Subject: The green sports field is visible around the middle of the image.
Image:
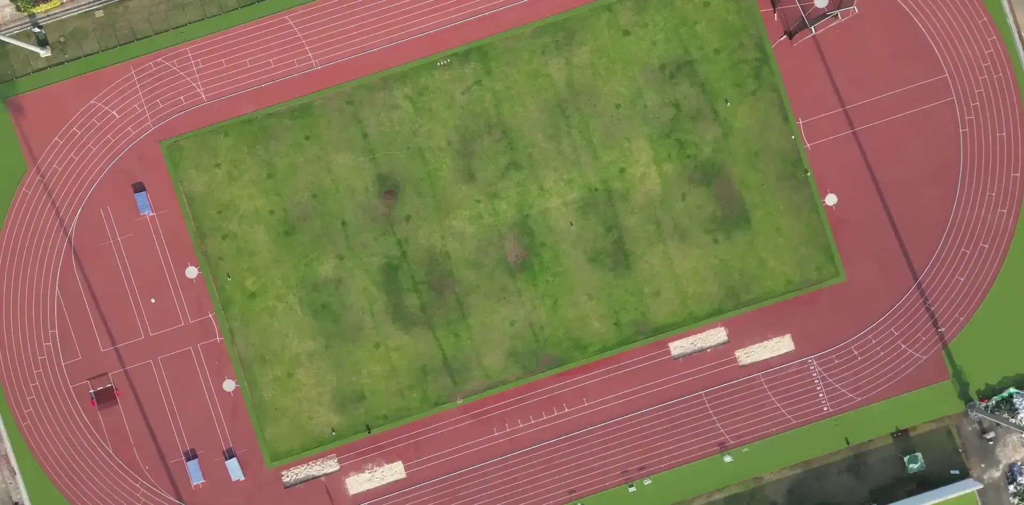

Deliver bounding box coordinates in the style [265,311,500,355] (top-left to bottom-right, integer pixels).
[159,0,847,469]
